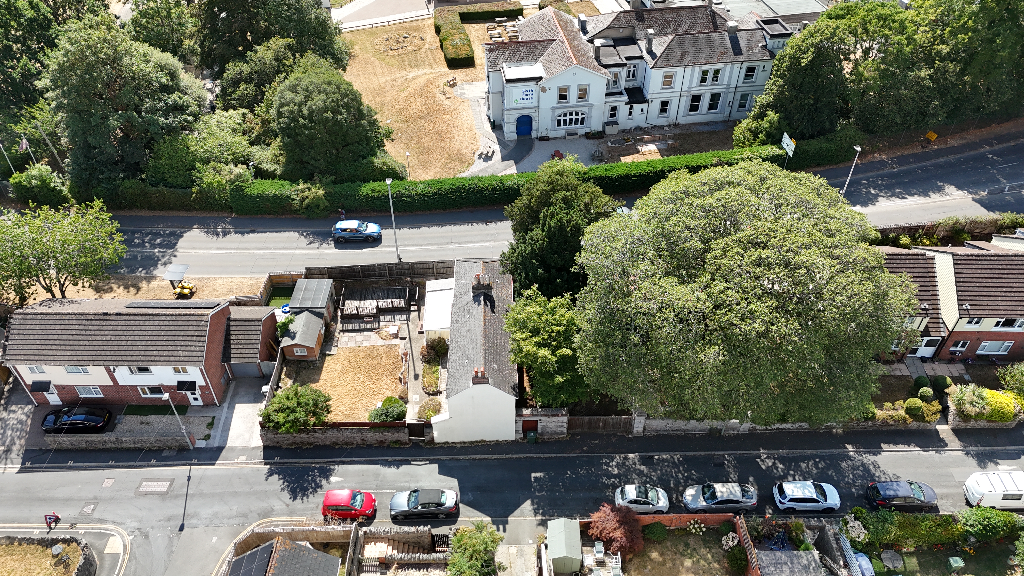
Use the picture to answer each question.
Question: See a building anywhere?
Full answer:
Yes, there's a building down there.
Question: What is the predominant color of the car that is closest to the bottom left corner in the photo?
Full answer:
In this view, the car that is closest to the bottom left corner is black.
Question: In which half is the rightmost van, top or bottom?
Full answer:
Seen from above, the rightmost van lies in the bottom half of the view.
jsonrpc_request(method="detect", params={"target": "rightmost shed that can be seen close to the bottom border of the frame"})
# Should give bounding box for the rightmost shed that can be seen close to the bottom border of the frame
[547,518,582,571]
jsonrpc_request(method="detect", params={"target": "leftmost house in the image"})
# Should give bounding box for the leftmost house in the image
[2,298,278,407]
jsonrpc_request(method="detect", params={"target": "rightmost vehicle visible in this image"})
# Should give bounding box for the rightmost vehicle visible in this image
[965,468,1024,510]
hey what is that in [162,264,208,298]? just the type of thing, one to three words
trailer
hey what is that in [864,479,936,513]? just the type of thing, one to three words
car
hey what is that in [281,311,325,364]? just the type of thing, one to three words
shed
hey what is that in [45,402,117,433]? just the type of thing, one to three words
car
